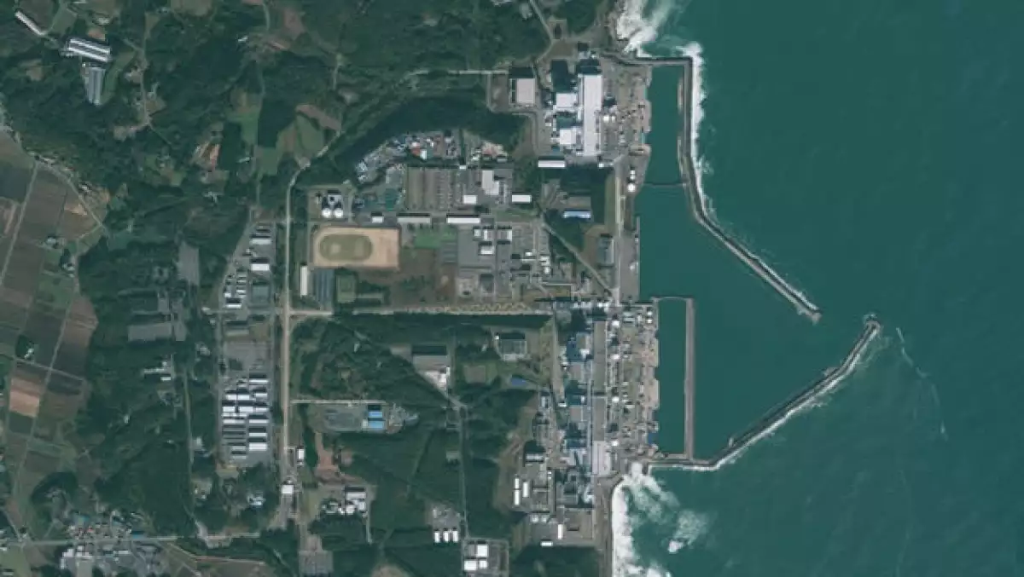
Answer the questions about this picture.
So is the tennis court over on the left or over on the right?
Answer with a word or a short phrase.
left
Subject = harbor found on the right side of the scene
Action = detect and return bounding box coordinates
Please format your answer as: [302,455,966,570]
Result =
[620,64,688,465]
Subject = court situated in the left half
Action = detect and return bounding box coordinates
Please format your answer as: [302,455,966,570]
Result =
[336,272,356,303]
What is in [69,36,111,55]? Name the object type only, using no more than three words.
greenhouse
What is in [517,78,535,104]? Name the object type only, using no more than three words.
building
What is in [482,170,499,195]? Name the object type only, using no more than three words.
building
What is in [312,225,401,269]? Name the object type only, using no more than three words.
sports field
